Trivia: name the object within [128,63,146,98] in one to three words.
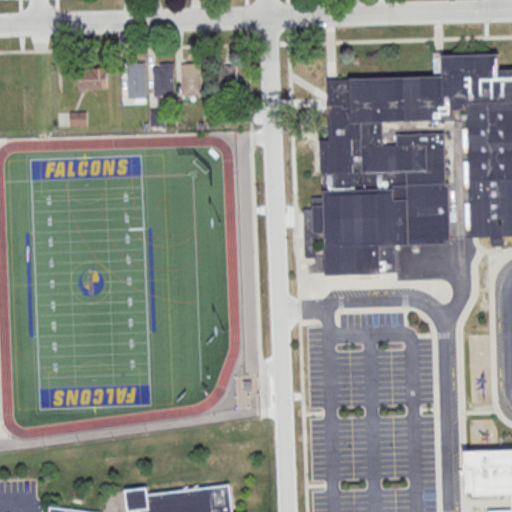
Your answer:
house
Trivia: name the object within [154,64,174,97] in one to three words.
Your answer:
house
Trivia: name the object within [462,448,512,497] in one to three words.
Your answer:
building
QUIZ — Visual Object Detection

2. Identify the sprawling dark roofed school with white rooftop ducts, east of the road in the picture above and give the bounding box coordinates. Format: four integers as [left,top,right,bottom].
[304,52,512,275]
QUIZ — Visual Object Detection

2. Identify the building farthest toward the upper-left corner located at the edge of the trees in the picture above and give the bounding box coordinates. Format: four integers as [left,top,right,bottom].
[78,68,107,90]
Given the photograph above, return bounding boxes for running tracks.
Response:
[0,136,240,439]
